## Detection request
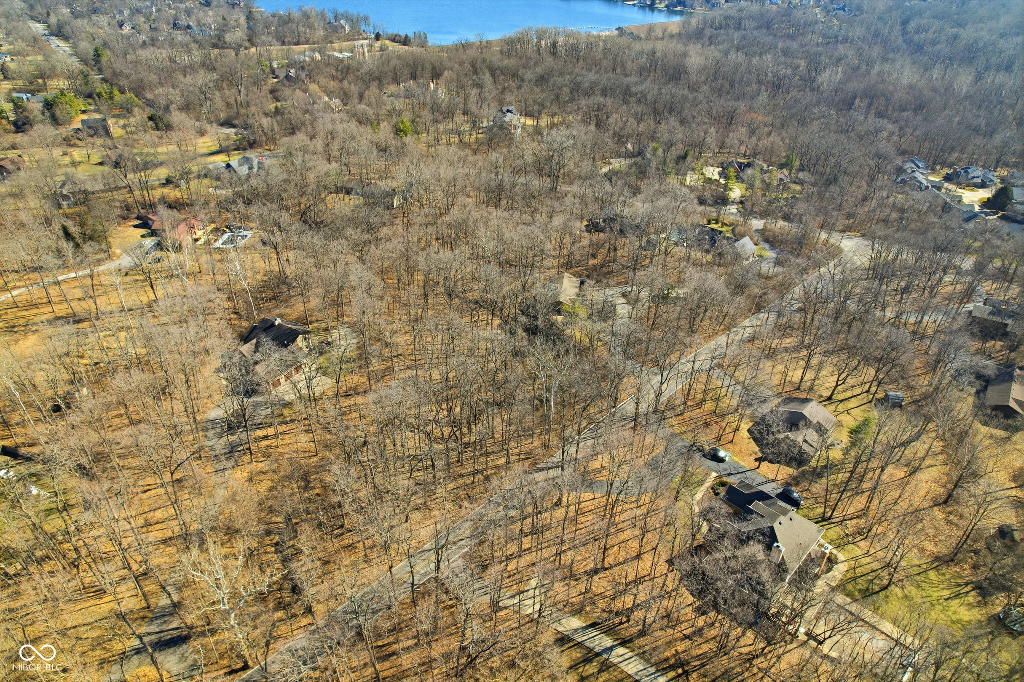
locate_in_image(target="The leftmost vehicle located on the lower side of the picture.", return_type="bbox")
[701,445,729,462]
